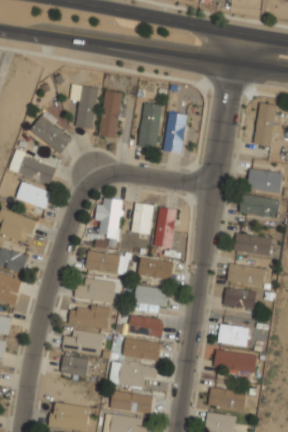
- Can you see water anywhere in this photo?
No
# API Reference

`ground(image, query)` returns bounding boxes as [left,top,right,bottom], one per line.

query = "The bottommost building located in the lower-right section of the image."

[206,413,236,432]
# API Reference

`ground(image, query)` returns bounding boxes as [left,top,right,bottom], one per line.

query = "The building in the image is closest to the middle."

[131,203,154,240]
